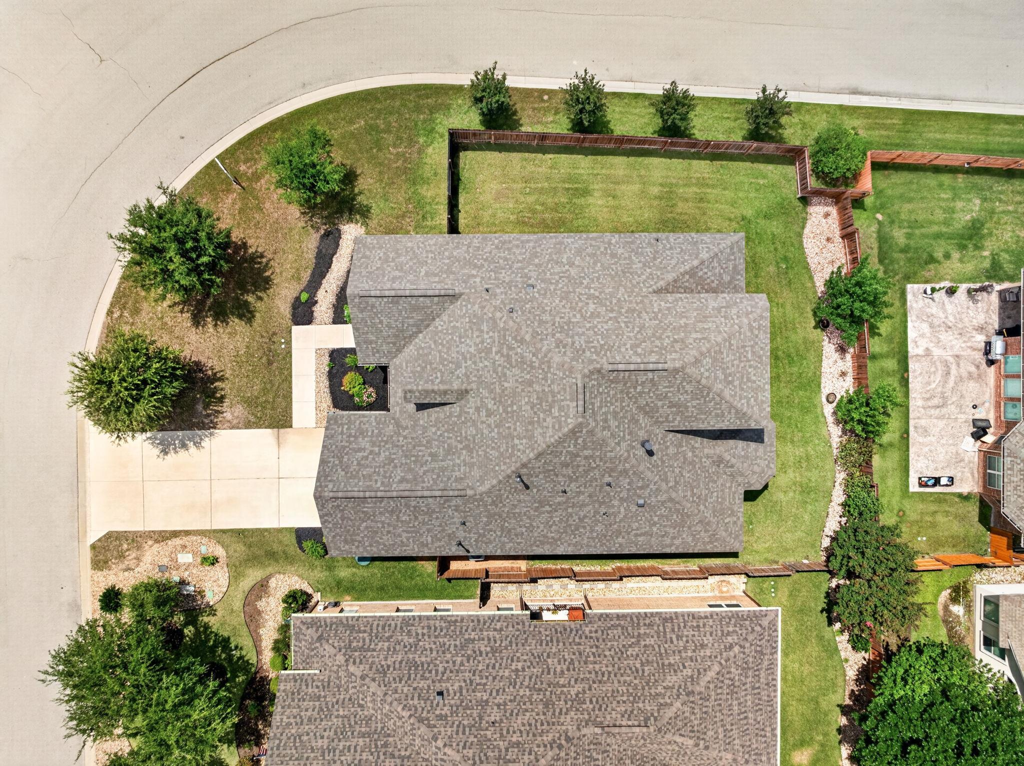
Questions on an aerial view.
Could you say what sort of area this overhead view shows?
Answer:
residential area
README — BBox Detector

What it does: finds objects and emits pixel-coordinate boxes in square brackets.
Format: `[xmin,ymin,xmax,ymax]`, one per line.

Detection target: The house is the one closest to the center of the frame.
[314,230,776,557]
